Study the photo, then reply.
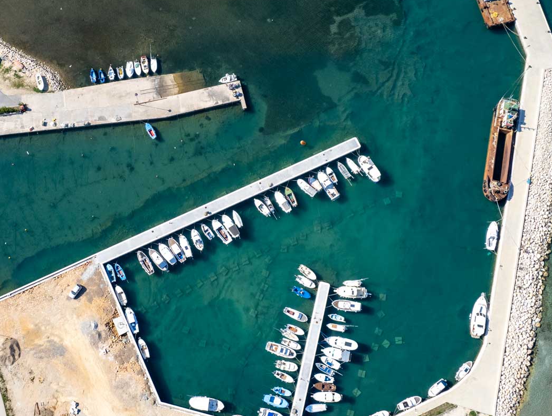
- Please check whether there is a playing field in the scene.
No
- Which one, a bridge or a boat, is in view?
boat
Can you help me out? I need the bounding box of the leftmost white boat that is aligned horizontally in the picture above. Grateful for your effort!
[187,396,224,414]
